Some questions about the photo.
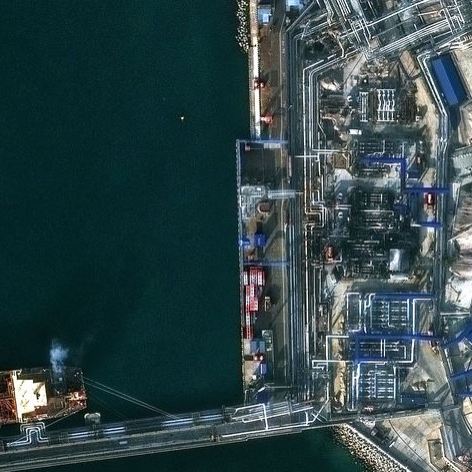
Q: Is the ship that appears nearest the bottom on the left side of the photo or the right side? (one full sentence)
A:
You can find the ship that appears nearest the bottom on the left side of the picture.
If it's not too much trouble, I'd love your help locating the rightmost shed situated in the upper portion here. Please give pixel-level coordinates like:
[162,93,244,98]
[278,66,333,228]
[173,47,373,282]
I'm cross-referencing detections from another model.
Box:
[431,53,470,113]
